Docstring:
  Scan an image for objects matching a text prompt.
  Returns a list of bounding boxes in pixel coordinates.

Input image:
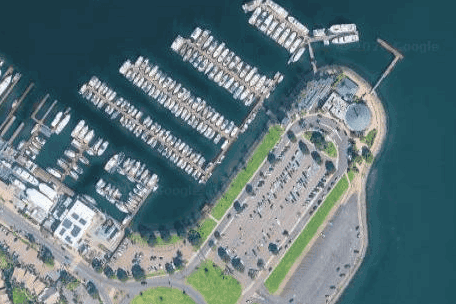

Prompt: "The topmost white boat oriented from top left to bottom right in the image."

[268,0,289,17]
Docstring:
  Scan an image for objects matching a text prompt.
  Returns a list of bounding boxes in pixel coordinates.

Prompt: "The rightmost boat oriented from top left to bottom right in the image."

[289,16,310,34]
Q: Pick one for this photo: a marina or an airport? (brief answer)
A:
marina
